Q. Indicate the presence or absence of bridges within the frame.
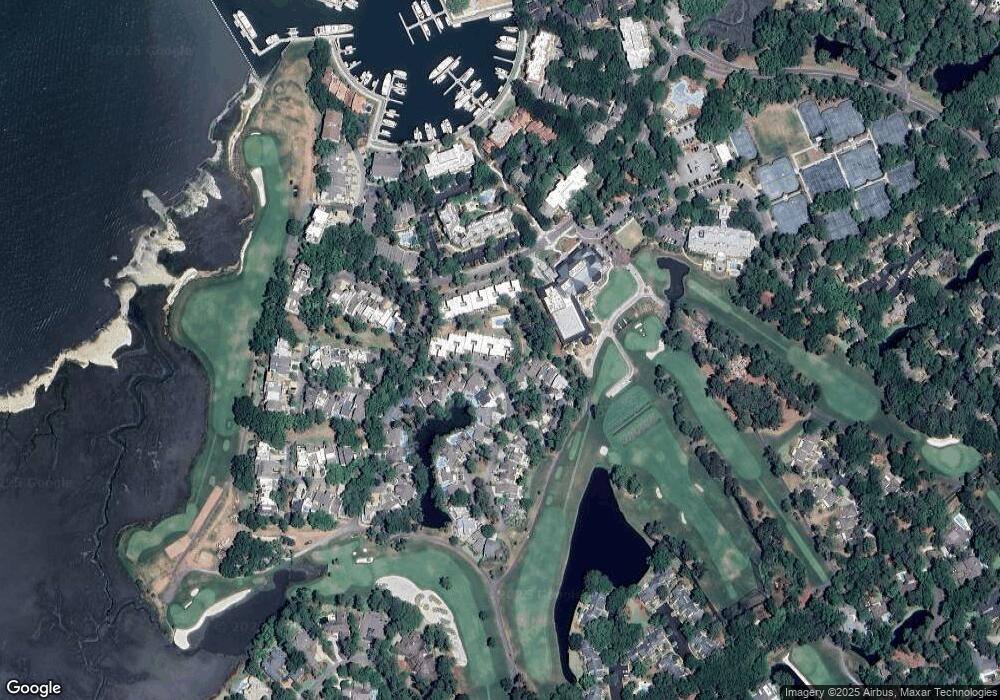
No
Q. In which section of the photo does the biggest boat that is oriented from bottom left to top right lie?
top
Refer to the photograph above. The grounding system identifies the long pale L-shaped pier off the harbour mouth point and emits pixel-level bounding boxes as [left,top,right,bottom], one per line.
[234,15,336,56]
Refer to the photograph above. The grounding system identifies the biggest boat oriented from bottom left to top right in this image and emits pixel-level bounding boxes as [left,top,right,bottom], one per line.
[428,53,457,80]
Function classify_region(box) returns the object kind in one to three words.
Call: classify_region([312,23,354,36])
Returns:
boat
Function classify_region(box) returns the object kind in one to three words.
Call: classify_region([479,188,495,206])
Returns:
swimming pool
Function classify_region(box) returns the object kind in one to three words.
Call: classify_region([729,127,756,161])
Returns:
tennis court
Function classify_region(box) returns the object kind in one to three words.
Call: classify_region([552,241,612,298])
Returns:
building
